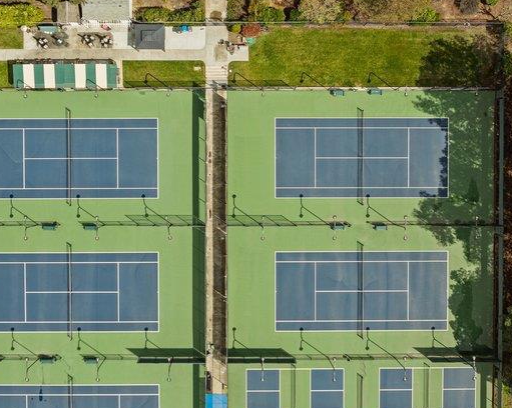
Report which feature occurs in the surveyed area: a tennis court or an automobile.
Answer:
tennis court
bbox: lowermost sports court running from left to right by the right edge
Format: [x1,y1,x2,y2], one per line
[362,357,491,408]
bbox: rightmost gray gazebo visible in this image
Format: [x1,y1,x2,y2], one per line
[134,25,166,52]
